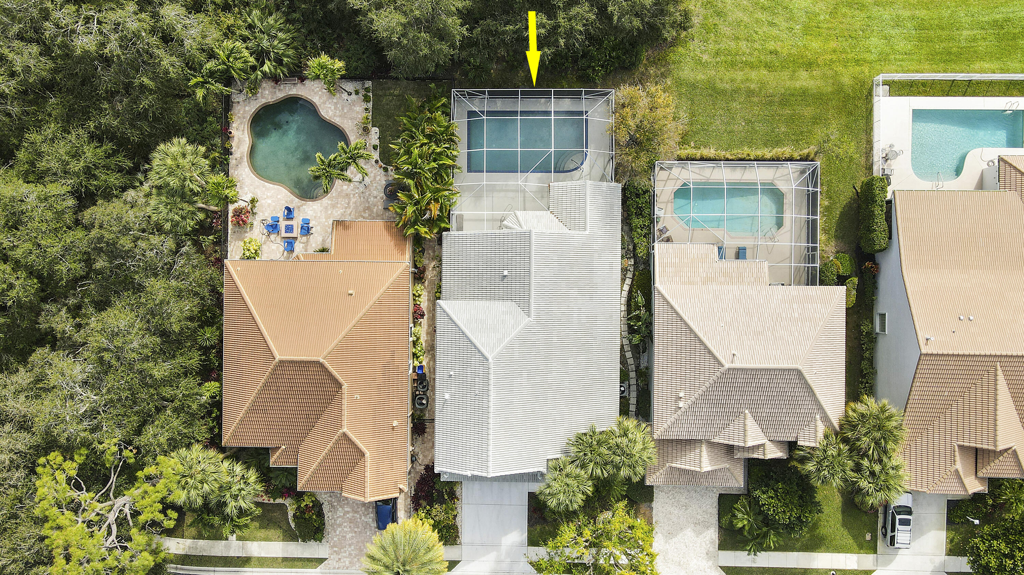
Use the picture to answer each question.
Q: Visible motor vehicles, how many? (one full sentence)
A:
The count of motor vehicles comes to 2.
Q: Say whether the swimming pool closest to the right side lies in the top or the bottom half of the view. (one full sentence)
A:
The swimming pool closest to the right side is in the top half of the image.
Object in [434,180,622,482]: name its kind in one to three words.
house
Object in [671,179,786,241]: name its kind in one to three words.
swimming pool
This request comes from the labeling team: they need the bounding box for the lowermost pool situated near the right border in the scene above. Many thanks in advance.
[909,103,1024,188]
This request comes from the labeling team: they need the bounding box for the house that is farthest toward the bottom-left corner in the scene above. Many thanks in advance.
[221,219,414,503]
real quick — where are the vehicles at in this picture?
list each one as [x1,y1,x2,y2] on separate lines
[371,497,398,531]
[881,488,915,551]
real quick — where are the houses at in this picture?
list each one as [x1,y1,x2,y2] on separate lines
[434,180,622,482]
[874,155,1024,496]
[644,243,847,489]
[221,219,414,503]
